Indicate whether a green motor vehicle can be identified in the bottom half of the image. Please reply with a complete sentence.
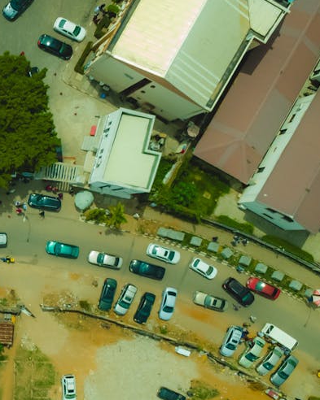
Yes, a green motor vehicle appears in the bottom half of the image.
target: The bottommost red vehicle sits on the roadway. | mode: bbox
[243,276,282,301]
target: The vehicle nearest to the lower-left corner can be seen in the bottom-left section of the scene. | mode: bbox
[60,373,78,400]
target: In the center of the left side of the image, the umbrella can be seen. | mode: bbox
[74,190,94,210]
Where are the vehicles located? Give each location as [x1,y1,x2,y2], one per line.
[238,335,265,369]
[144,245,181,264]
[186,255,218,280]
[3,0,29,21]
[127,260,169,279]
[133,290,155,325]
[254,344,284,377]
[60,373,78,400]
[45,241,80,258]
[190,292,228,311]
[259,322,304,353]
[157,286,177,321]
[86,251,123,268]
[269,353,299,388]
[154,385,188,400]
[26,192,63,211]
[36,31,73,61]
[51,16,87,43]
[243,276,282,301]
[98,277,118,312]
[218,276,257,307]
[217,324,245,357]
